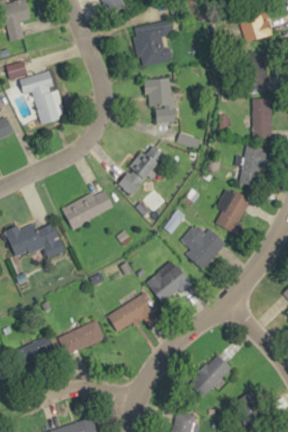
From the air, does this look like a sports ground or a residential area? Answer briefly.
residential area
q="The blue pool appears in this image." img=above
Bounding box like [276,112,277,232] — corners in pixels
[15,96,31,117]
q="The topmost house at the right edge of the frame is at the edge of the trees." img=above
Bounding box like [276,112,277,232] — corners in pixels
[238,12,274,43]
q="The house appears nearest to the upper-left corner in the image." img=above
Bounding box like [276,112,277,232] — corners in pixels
[5,0,31,40]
